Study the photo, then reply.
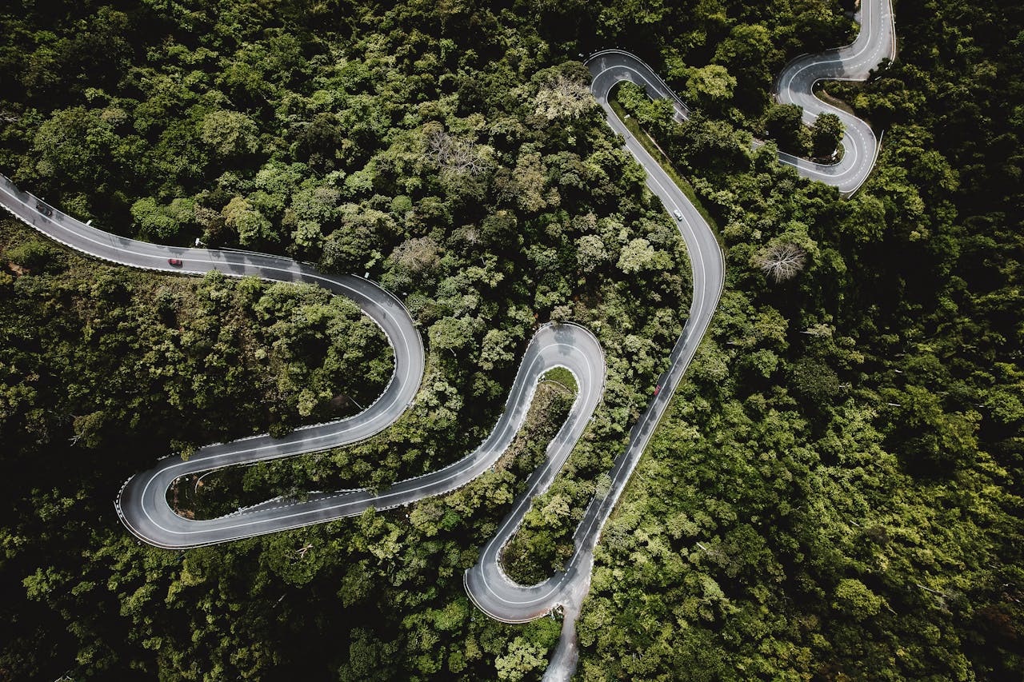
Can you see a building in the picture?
No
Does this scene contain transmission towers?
No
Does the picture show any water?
No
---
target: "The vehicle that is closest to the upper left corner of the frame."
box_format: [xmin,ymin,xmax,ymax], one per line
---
[34,202,54,217]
